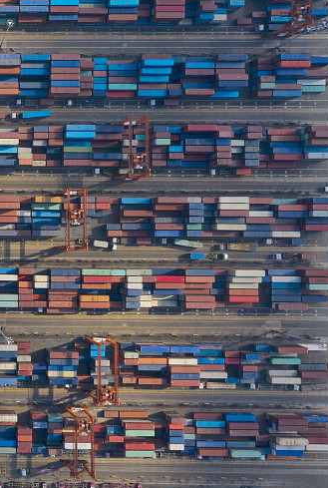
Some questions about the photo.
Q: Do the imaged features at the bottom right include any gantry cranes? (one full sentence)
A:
No, at the bottom right there is no gantry crane.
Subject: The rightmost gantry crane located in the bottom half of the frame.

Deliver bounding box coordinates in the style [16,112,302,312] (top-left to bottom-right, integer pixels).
[87,333,119,408]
